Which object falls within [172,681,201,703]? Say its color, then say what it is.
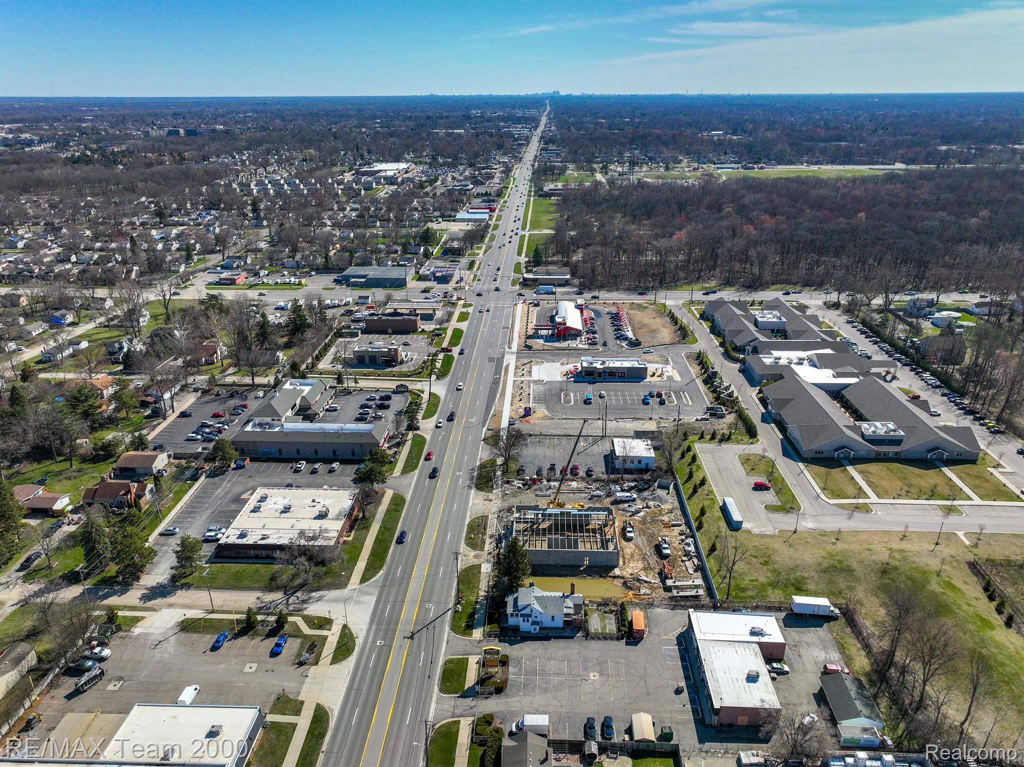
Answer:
white vehicle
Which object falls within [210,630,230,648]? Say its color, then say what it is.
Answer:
blue car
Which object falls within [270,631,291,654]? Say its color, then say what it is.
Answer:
blue truck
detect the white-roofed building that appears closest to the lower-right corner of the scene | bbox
[680,609,785,728]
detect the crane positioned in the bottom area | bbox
[545,419,587,509]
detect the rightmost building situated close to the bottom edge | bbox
[817,669,892,736]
